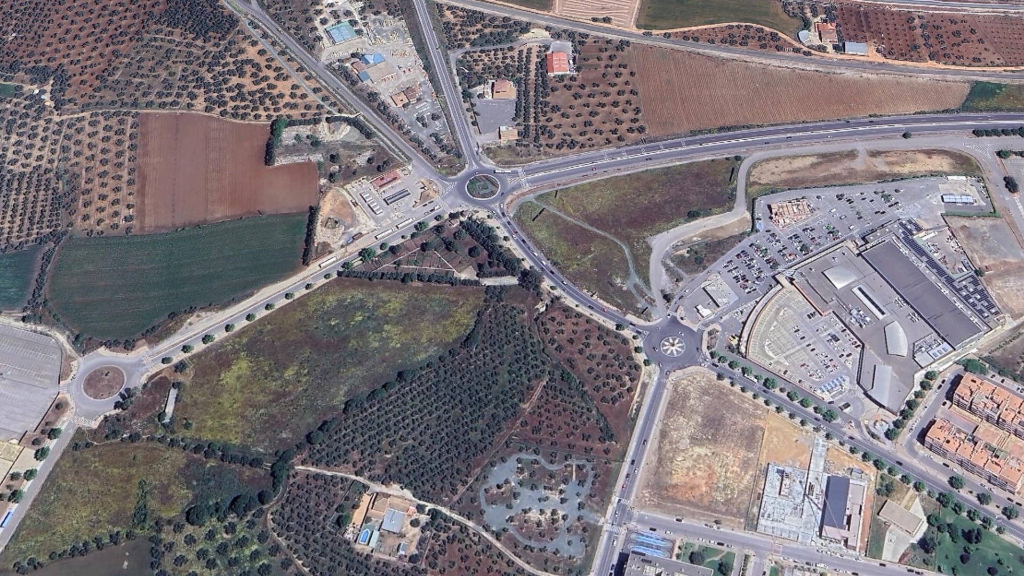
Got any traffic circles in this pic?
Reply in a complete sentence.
Yes, the picture does show a traffic circle.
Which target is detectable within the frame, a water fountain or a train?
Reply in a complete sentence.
The image shows a water fountain.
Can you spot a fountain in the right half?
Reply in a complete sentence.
Yes, a fountain appears in the right half.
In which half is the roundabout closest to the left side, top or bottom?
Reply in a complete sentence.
It is in the bottom half that the roundabout closest to the left side appears.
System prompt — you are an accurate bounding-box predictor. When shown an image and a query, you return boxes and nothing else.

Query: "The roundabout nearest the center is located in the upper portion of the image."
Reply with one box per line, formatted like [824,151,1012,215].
[439,158,539,210]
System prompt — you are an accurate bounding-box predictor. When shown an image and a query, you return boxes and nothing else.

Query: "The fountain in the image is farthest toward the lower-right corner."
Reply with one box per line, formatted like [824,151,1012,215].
[867,414,893,439]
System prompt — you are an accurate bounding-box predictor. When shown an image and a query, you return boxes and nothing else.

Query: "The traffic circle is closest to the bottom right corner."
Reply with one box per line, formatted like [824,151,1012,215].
[644,323,701,369]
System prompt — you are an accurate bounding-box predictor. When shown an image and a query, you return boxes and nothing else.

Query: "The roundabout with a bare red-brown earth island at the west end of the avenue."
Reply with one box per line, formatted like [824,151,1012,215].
[71,356,137,410]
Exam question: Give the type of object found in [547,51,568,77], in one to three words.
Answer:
shed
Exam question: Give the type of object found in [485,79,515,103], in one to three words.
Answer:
house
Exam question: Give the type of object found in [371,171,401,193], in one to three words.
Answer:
building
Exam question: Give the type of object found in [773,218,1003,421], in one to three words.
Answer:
building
